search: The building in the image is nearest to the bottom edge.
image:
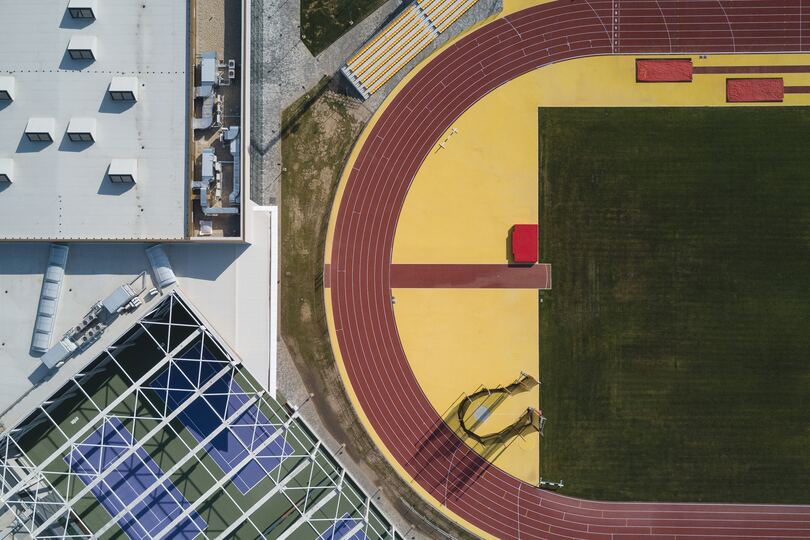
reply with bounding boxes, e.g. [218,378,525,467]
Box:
[0,199,281,445]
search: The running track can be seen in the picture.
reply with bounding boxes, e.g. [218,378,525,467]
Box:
[324,0,810,540]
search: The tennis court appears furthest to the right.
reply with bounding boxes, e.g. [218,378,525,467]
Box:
[316,513,369,540]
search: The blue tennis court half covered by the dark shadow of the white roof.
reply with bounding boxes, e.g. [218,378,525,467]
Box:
[150,341,294,495]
